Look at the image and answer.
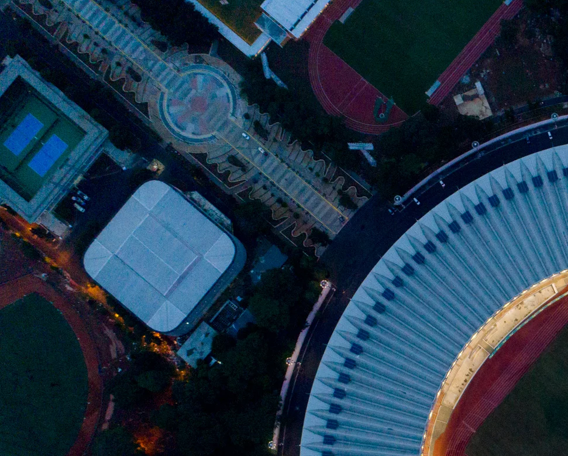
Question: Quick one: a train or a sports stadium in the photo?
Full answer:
The image shows a sports stadium.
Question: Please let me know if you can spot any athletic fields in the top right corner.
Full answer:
Yes, in the top right corner there is an athletic field.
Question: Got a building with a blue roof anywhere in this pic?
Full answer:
Yes, a building with a blue roof can be made out from above.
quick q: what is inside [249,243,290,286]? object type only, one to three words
building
